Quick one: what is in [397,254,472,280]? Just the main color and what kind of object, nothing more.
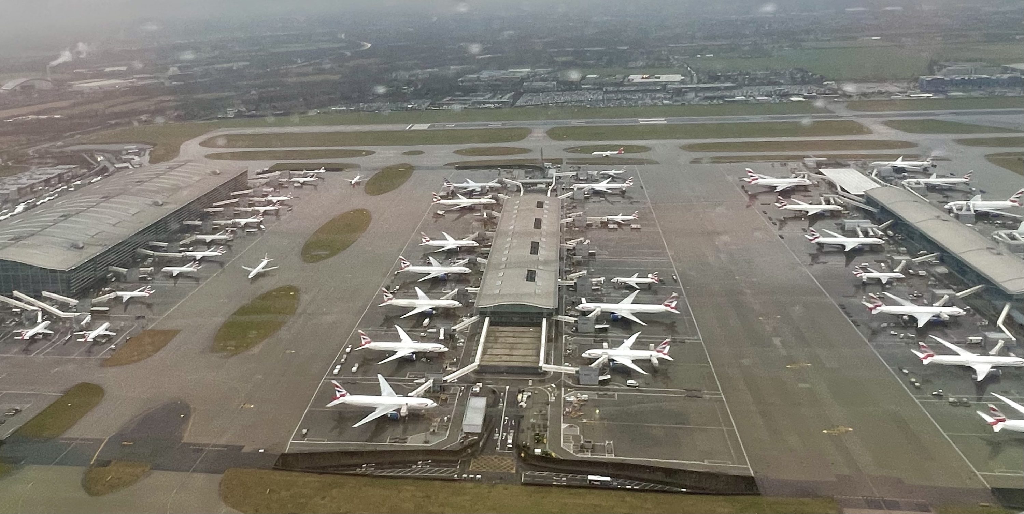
white airplane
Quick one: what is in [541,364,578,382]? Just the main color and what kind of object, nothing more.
white jet bridge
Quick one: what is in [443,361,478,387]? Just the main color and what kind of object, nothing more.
white jet bridge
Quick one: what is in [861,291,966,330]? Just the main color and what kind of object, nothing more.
white airplane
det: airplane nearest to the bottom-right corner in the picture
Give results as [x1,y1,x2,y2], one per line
[979,392,1024,432]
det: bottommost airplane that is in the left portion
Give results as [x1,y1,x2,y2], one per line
[327,375,437,430]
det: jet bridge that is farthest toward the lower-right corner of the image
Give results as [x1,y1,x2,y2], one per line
[986,340,1005,357]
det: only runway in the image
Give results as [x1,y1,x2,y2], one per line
[398,108,1024,130]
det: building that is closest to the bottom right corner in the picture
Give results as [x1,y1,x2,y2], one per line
[981,331,1014,352]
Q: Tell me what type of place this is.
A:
airport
